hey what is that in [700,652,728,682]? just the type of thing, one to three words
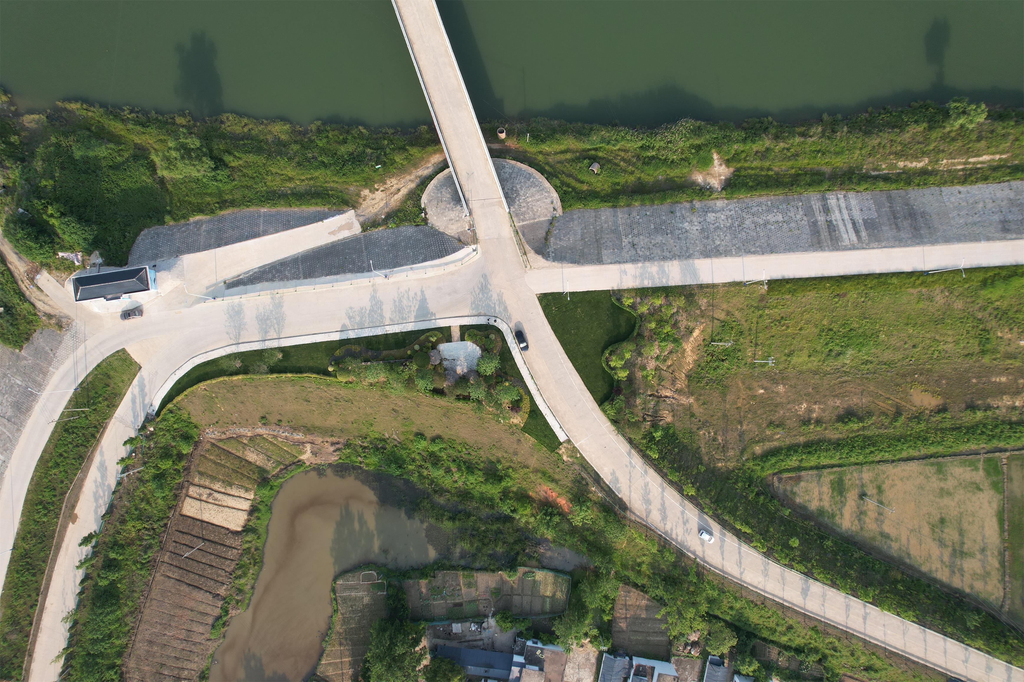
house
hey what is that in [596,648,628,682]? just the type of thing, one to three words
house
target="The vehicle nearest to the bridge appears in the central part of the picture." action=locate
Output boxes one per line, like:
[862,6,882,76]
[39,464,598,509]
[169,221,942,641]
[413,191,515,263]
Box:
[515,330,529,352]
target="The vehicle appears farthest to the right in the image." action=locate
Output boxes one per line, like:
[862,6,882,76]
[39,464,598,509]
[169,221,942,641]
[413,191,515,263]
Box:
[698,530,717,546]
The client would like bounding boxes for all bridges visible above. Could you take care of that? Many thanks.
[392,0,508,216]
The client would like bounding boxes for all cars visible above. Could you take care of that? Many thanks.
[698,530,717,546]
[515,330,529,352]
[118,308,142,319]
